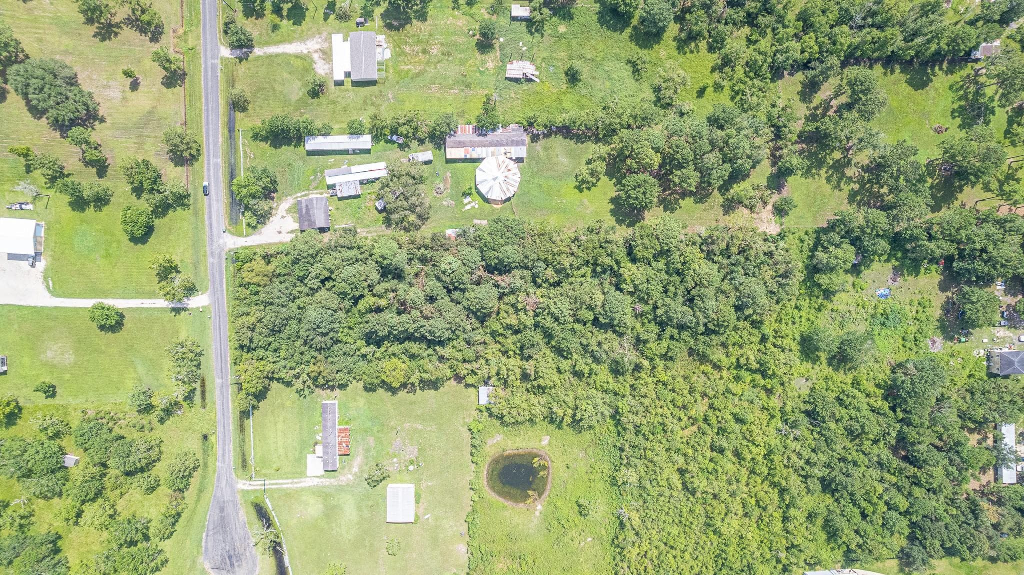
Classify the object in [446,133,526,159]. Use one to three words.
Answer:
barn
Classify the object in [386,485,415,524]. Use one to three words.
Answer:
building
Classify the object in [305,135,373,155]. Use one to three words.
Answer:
house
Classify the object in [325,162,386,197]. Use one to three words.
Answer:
shed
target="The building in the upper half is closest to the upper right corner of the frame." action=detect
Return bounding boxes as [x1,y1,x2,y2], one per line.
[970,41,1001,59]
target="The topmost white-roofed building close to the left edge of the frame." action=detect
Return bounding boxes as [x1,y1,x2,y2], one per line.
[0,218,46,254]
